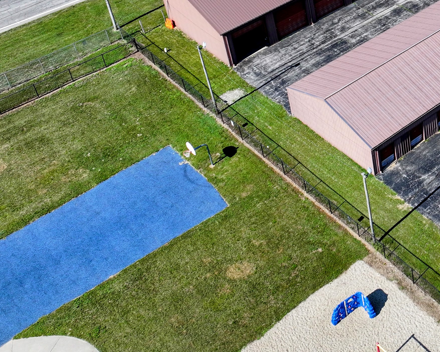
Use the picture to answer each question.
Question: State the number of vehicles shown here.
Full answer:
There are no vehicles in this view.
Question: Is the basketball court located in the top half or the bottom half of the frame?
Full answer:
The basketball court sits in the bottom half of the picture.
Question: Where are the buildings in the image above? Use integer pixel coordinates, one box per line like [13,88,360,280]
[285,1,440,175]
[163,0,356,68]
